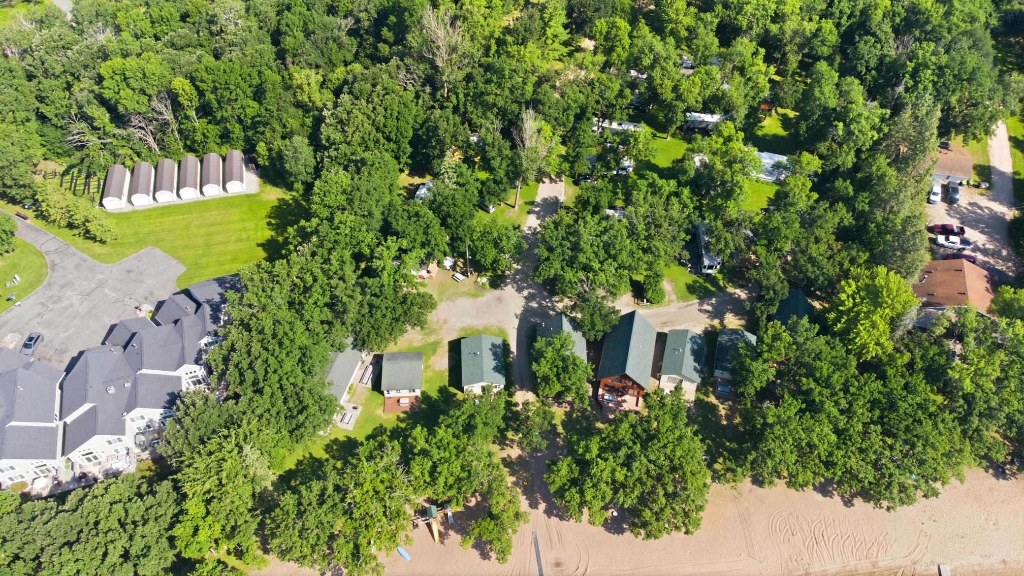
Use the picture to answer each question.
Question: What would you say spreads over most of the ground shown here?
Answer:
trees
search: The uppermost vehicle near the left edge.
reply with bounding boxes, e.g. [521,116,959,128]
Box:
[18,330,48,357]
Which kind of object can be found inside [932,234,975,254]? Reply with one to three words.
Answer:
vehicle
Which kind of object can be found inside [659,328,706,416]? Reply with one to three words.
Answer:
building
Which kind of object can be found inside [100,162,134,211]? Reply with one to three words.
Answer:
shed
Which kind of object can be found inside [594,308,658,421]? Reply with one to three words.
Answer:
house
